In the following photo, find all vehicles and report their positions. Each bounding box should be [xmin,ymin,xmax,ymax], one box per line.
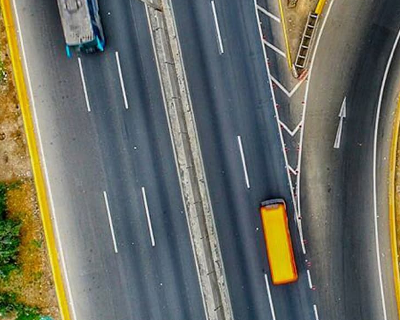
[57,0,107,51]
[260,196,297,283]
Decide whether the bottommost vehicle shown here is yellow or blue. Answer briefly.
yellow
